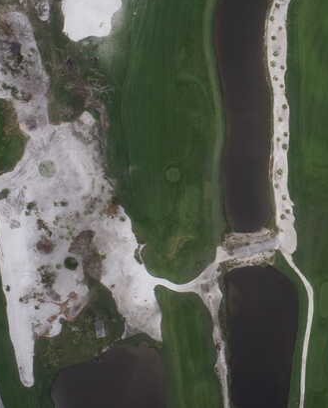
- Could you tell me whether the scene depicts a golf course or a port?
golf course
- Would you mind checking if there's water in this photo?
Yes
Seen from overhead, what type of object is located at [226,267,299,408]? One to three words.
pond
